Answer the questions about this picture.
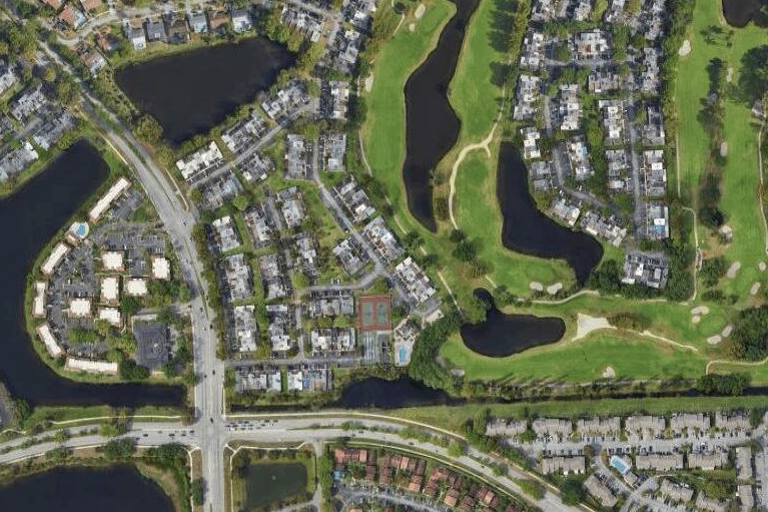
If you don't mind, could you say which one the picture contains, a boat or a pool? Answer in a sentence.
This aerial view contains a pool.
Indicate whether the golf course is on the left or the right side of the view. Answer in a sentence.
The golf course appears in the right half of the scene.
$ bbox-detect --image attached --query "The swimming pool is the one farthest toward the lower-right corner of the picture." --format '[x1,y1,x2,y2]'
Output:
[610,455,631,474]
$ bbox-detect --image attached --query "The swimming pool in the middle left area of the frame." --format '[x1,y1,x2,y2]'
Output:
[71,221,91,239]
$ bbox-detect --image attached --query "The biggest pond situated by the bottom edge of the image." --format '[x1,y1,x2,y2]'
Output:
[246,463,307,508]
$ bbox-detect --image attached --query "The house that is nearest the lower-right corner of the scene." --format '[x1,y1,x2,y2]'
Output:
[739,485,754,512]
